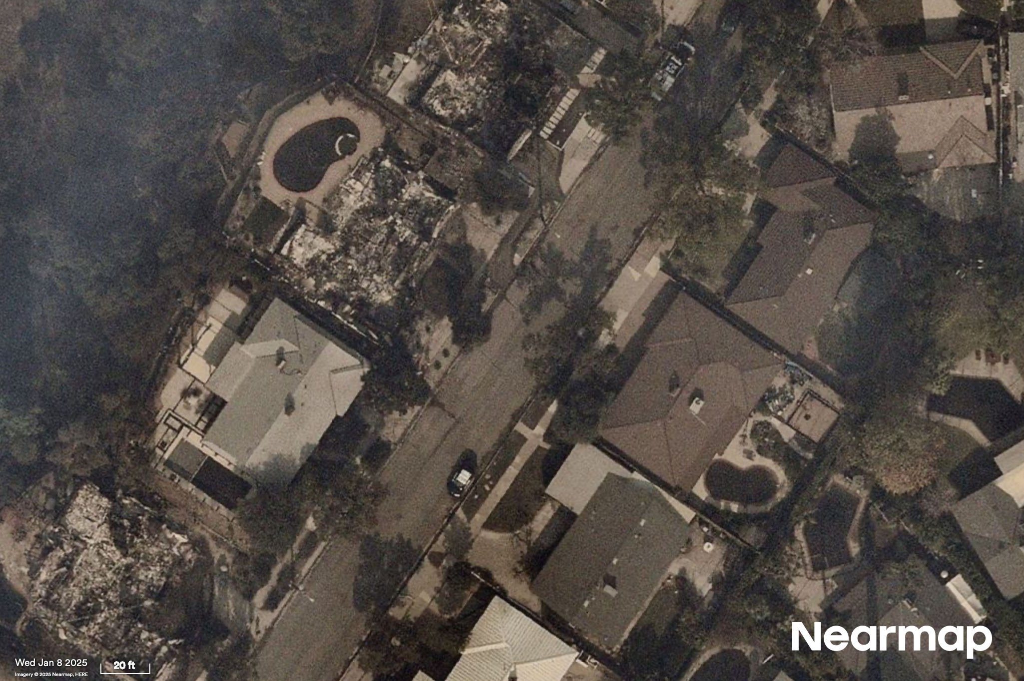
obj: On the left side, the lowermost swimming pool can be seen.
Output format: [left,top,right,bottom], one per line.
[162,438,253,510]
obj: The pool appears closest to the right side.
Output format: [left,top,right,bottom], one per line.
[926,375,1024,447]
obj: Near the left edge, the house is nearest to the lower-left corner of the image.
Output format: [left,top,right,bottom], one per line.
[28,475,196,675]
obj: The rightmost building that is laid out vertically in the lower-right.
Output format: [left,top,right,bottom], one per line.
[951,441,1024,600]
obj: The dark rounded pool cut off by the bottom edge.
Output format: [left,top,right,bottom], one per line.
[690,648,753,681]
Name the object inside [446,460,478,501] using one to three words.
car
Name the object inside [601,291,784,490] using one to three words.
house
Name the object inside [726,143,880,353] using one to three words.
house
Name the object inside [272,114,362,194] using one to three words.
swimming pool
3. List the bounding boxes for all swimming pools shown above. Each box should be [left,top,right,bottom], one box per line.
[703,457,780,508]
[690,648,753,681]
[272,114,362,194]
[802,483,860,574]
[926,375,1024,447]
[162,438,253,510]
